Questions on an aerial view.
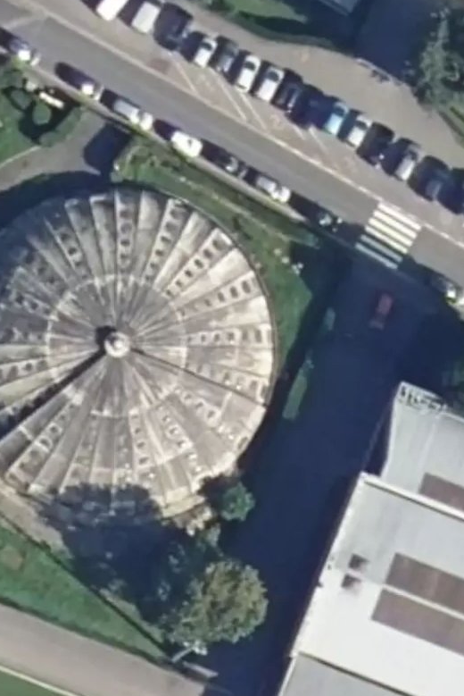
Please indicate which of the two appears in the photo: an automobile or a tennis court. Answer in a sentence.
I can see an automobile in this picture.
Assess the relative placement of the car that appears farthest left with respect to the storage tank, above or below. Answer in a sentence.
In the image, the car that appears farthest left appears above the storage tank.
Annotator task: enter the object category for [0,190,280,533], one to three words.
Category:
storage tank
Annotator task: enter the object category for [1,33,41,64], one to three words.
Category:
car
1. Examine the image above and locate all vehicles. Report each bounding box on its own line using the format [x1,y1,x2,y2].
[131,0,164,38]
[206,145,247,177]
[389,142,417,179]
[415,159,444,200]
[233,52,262,93]
[160,7,191,50]
[61,65,102,97]
[276,76,305,118]
[363,125,393,165]
[295,89,327,130]
[347,115,375,151]
[94,0,120,23]
[304,201,343,233]
[191,33,220,70]
[322,100,352,136]
[1,33,41,64]
[111,95,152,129]
[213,39,240,76]
[251,171,291,203]
[442,171,464,214]
[166,128,206,160]
[255,63,286,104]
